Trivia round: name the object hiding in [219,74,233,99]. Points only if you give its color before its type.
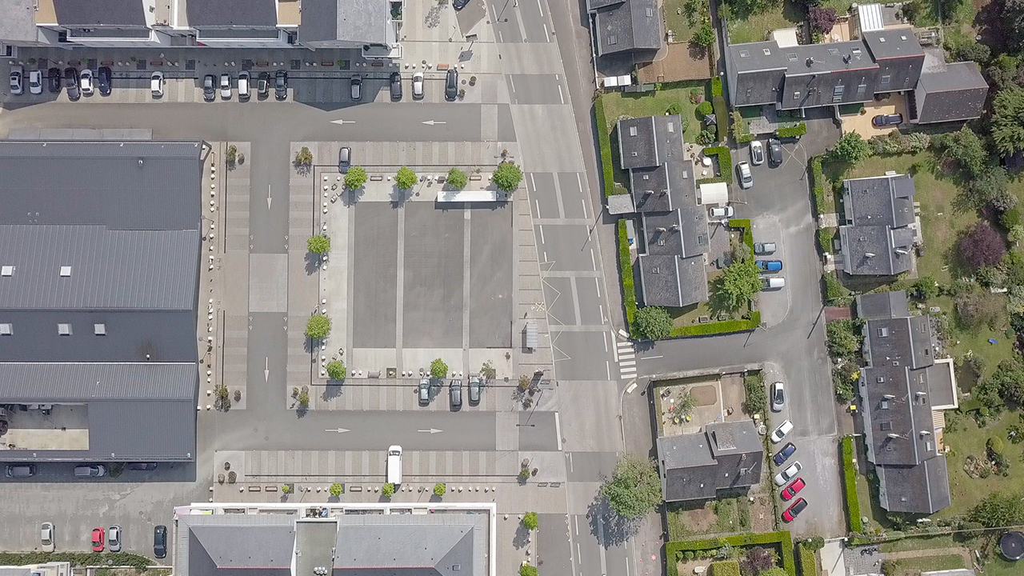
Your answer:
white car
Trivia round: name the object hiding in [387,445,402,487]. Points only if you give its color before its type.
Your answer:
white vehicle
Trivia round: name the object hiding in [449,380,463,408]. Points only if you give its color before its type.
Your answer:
gray car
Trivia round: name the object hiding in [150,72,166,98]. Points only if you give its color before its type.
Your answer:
white car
